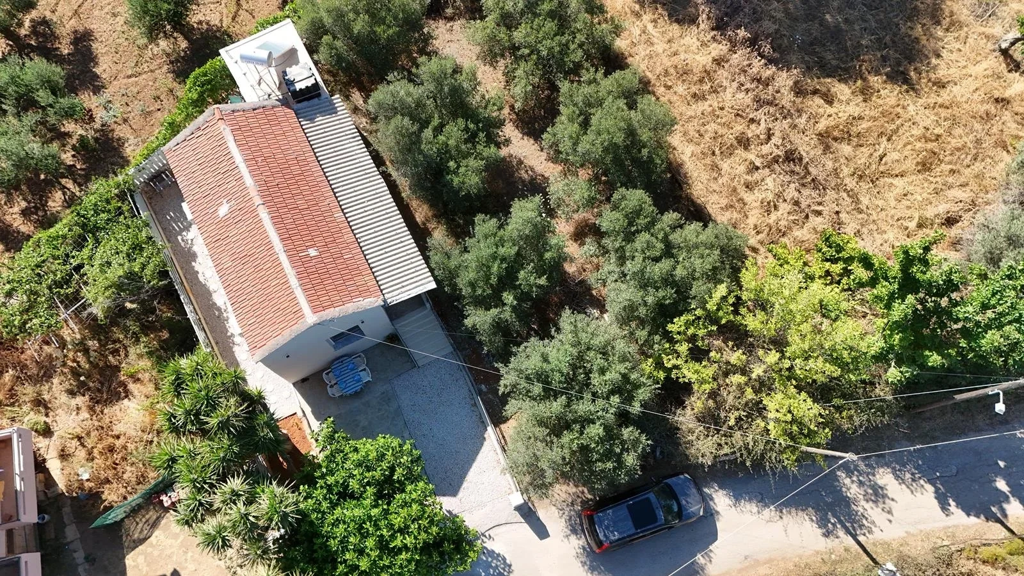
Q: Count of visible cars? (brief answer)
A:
1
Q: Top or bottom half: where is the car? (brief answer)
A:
bottom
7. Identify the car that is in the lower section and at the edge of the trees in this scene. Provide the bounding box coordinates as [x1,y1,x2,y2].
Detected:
[579,473,702,555]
